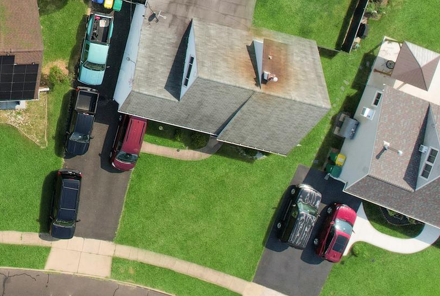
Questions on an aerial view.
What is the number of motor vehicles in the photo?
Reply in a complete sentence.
The photo contains 6 motor vehicles.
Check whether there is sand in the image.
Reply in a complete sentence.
No, the scene doesn't show any sand.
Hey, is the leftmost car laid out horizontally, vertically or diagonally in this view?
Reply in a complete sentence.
The leftmost car is laid out vertically.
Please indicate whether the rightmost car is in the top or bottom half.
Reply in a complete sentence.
The bottom half of the photo is where the rightmost car is.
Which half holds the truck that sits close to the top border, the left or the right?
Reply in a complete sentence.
The truck that sits close to the top border appears in the left half of the scene.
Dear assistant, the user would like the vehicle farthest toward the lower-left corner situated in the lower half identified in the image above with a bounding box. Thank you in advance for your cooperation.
[46,165,82,239]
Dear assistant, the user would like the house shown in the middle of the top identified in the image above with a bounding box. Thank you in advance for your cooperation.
[111,0,331,158]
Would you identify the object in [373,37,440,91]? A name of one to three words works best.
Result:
gazebo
